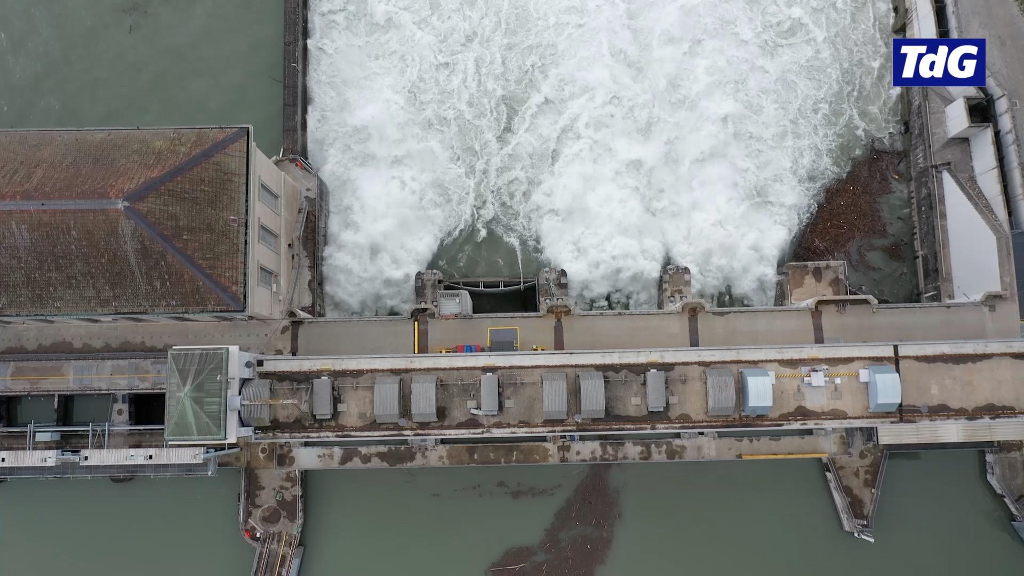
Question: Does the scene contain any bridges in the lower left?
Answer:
Yes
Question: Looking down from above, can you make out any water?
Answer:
Yes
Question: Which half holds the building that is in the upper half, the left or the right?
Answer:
left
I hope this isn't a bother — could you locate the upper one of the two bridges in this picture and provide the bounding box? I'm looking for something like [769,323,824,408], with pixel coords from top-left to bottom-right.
[253,338,1024,442]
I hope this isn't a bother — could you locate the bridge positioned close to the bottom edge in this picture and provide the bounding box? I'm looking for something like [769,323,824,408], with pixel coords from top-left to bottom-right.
[248,532,303,576]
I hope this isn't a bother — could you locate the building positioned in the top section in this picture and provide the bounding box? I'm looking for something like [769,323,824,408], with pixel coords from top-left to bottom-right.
[0,127,298,326]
